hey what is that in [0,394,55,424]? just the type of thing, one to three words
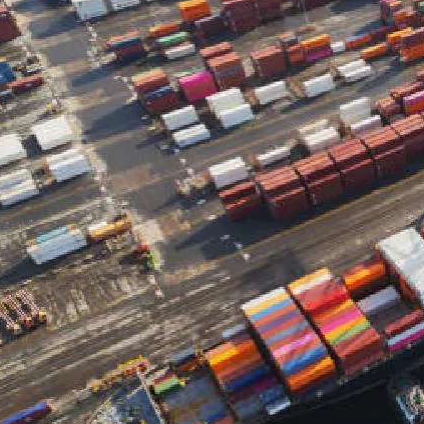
shipping container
